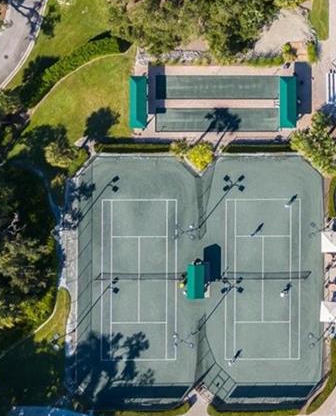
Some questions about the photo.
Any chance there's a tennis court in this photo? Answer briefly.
Yes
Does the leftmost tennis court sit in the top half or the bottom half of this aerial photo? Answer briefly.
bottom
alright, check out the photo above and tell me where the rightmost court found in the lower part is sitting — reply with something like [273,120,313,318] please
[199,156,323,403]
